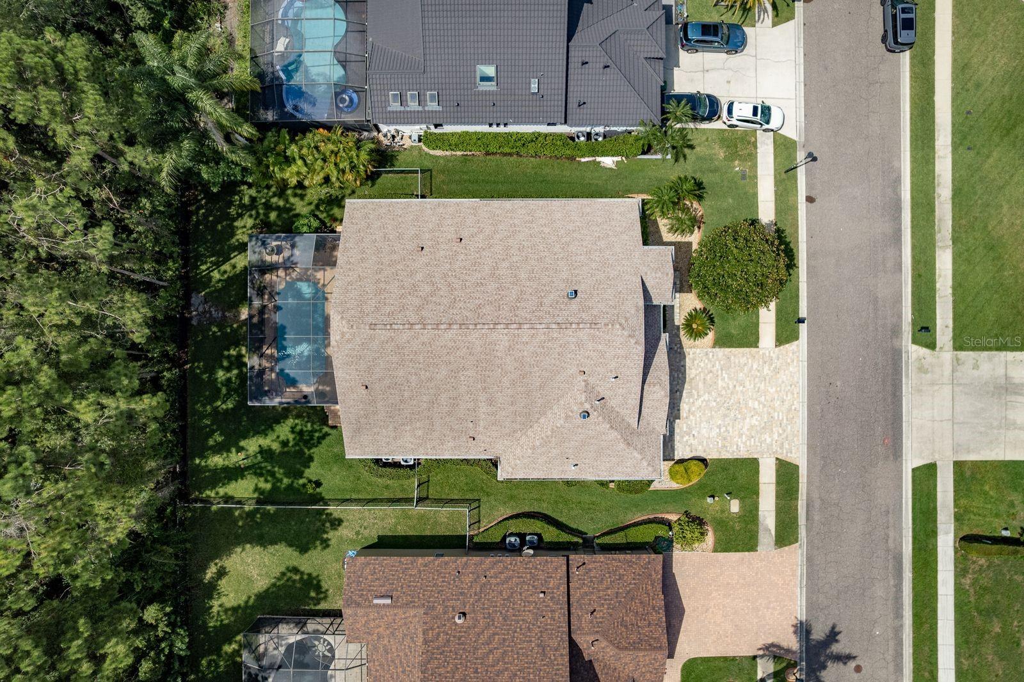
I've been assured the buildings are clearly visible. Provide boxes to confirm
[360,0,665,133]
[330,198,678,480]
[339,545,670,682]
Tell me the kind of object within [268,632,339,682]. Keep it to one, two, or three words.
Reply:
swimming pool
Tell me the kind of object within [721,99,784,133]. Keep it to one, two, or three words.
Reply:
car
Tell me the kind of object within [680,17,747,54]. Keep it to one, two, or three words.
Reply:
car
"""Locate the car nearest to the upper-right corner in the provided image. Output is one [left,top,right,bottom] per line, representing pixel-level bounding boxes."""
[882,0,922,51]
